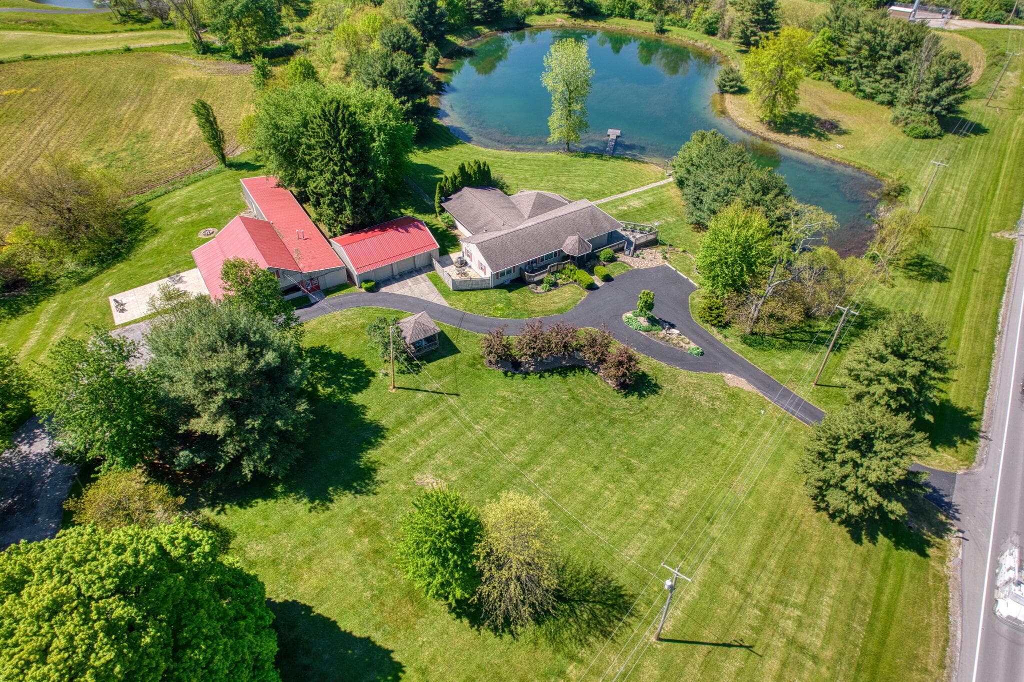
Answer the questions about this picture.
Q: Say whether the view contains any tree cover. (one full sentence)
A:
Yes, tree cover can be seen from above here.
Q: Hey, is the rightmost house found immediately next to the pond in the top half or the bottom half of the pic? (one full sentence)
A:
It is in the top half that the rightmost house found immediately next to the pond appears.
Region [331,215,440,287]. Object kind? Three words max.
building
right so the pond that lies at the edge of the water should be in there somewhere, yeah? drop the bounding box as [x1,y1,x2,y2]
[469,37,829,215]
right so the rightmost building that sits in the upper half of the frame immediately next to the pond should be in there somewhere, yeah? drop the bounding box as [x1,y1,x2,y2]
[442,185,625,285]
